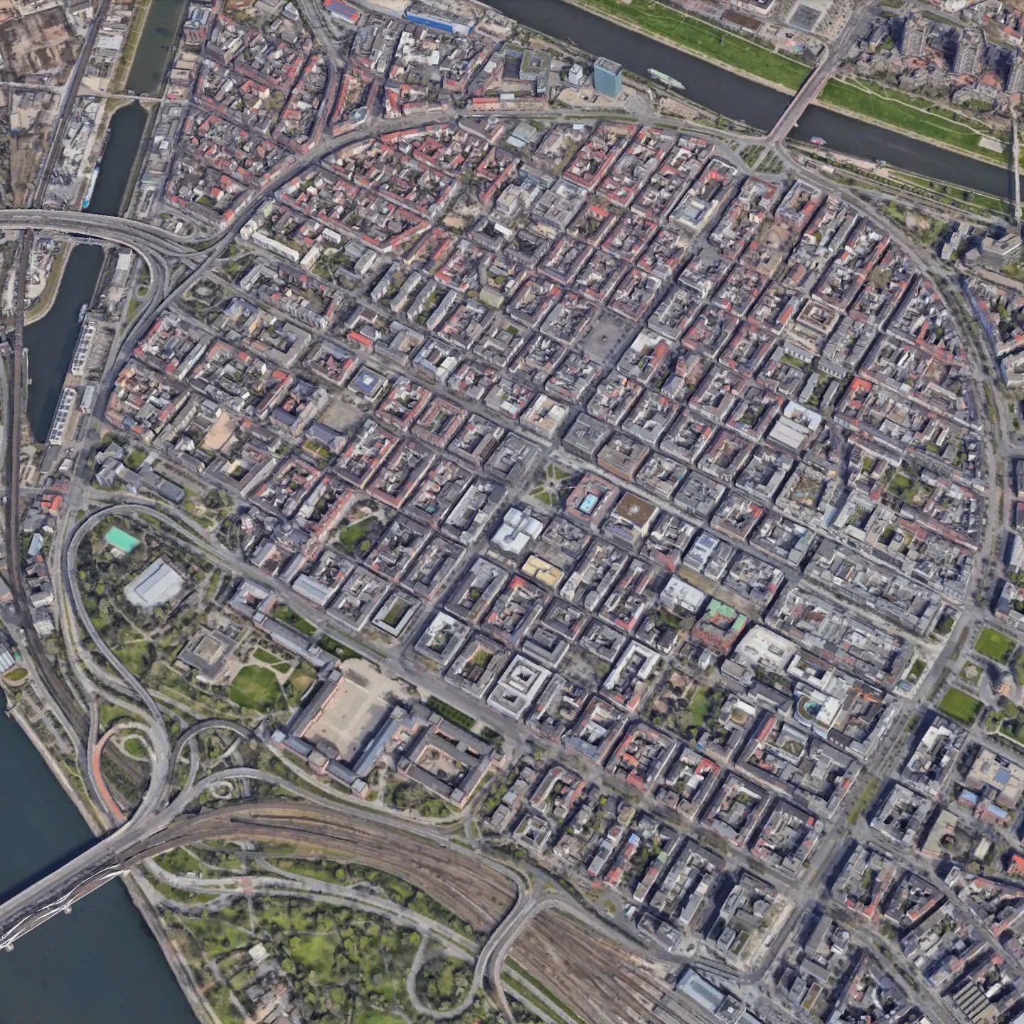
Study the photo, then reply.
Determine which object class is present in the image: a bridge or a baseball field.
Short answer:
bridge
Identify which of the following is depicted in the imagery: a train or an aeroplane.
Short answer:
train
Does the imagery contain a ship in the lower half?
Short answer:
No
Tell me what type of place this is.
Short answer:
residential area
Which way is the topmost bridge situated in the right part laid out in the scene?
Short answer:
diagonally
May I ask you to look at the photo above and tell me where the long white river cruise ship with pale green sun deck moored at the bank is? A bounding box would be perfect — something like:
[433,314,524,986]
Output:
[646,67,686,89]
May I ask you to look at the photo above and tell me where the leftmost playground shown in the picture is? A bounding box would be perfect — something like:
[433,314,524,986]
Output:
[203,416,237,449]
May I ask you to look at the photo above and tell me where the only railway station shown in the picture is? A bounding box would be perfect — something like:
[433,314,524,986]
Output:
[677,968,726,1014]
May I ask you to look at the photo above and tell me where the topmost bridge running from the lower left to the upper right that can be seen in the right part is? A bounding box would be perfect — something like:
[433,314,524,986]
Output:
[764,55,845,149]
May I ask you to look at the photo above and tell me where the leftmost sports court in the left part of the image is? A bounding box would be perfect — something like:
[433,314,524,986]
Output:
[103,526,142,552]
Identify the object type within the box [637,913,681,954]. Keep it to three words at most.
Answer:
building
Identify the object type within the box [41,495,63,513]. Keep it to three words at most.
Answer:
house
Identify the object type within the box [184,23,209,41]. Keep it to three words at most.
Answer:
building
